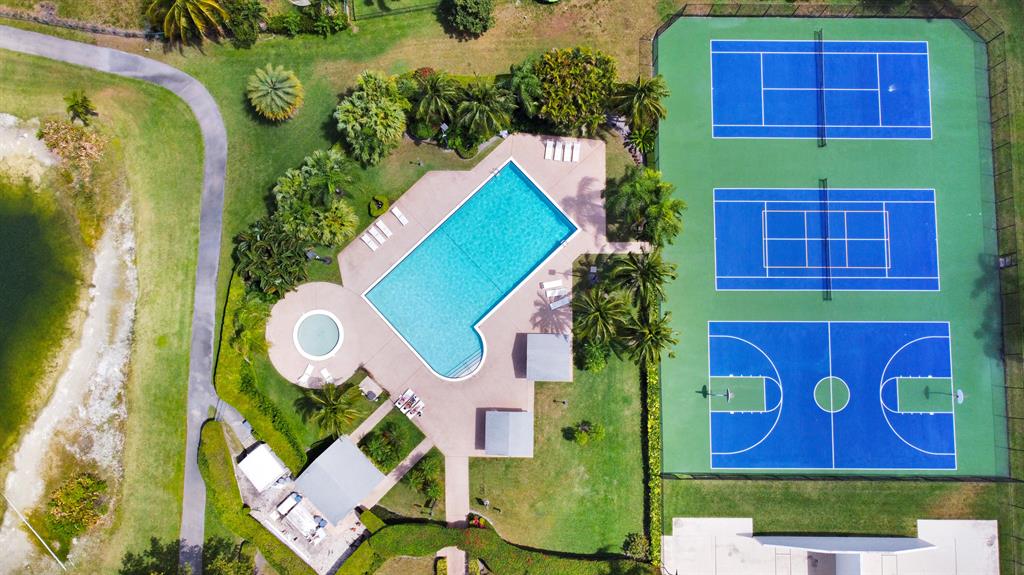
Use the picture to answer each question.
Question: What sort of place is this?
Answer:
sports ground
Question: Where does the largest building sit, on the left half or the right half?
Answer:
left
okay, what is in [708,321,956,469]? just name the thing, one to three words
basketball court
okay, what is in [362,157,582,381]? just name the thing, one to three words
swimming pool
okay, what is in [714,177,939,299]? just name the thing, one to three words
tennis court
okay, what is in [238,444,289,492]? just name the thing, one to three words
shed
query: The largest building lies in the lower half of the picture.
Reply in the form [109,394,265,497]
[295,438,386,526]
